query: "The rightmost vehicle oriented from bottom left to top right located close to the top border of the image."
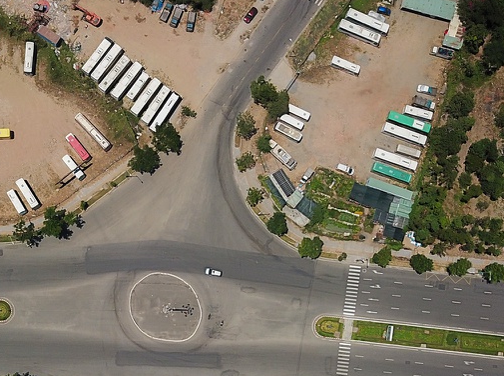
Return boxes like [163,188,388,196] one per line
[244,7,259,24]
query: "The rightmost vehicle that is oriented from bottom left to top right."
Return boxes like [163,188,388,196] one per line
[299,167,317,186]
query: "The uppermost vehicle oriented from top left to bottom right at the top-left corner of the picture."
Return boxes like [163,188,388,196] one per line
[73,5,104,29]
